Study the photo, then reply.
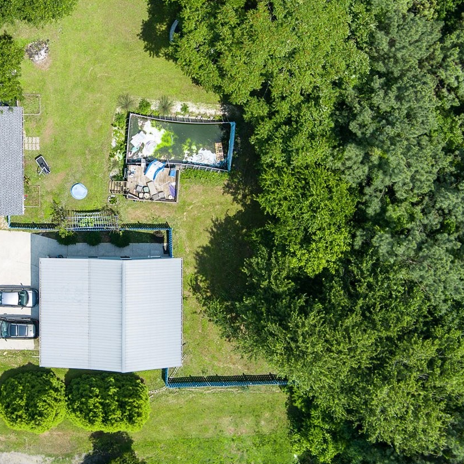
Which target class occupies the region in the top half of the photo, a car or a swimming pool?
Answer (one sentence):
What appears in the top half of the photo is a swimming pool.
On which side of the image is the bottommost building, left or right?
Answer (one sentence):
The bottommost building appears in the left half of the scene.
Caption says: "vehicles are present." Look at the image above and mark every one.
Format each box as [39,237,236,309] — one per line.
[0,316,37,341]
[0,287,37,309]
